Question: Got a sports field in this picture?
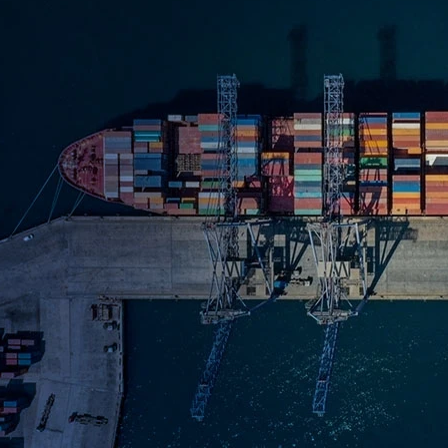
No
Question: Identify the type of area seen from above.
port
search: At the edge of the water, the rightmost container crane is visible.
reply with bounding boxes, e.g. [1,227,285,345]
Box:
[305,74,374,423]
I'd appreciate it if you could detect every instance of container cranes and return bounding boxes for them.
[194,74,283,423]
[305,74,374,423]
